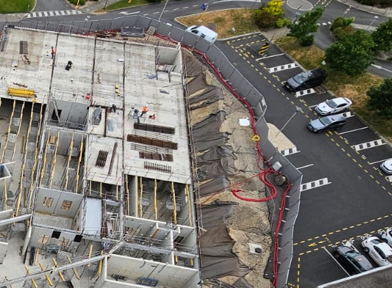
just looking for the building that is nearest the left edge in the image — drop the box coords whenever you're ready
[0,25,203,288]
